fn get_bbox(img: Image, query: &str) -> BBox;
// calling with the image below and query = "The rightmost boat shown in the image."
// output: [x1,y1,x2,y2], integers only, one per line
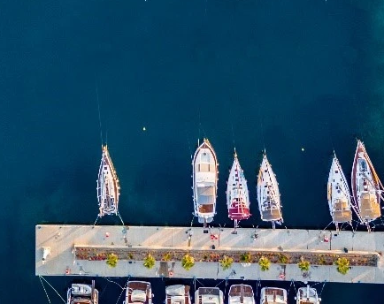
[349,139,384,236]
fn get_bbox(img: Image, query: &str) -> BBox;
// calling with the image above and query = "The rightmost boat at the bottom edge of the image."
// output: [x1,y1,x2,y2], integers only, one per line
[294,282,322,304]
